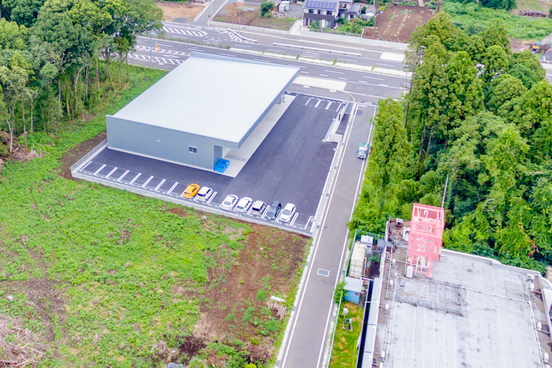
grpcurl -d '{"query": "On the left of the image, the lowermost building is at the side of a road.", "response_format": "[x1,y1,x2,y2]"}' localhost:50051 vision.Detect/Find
[105,50,298,172]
